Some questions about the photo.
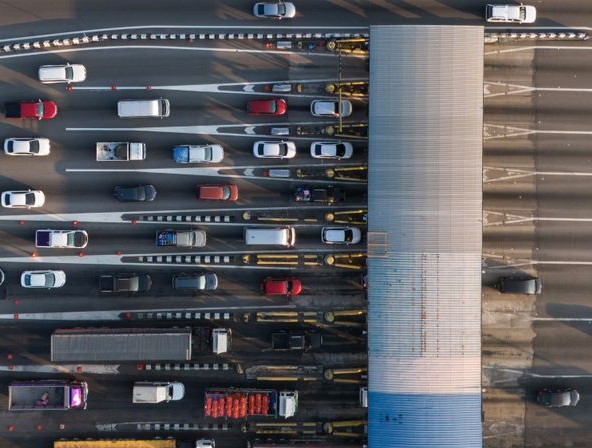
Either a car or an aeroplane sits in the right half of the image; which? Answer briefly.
car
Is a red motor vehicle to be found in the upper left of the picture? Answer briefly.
Yes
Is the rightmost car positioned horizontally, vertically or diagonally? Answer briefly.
horizontally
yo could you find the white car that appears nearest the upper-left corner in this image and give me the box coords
[38,62,88,85]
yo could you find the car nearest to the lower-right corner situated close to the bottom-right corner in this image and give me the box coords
[537,388,579,408]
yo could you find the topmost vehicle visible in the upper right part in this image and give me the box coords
[486,1,535,25]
